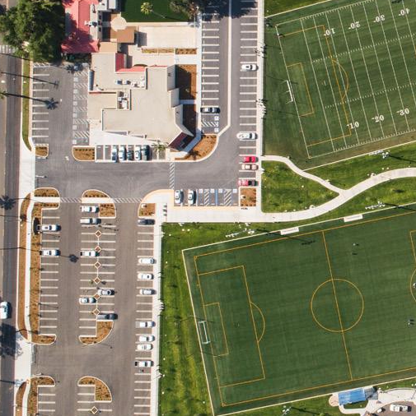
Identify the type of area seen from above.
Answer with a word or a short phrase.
sports ground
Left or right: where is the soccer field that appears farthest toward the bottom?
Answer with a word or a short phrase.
right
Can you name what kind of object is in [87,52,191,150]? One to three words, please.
building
